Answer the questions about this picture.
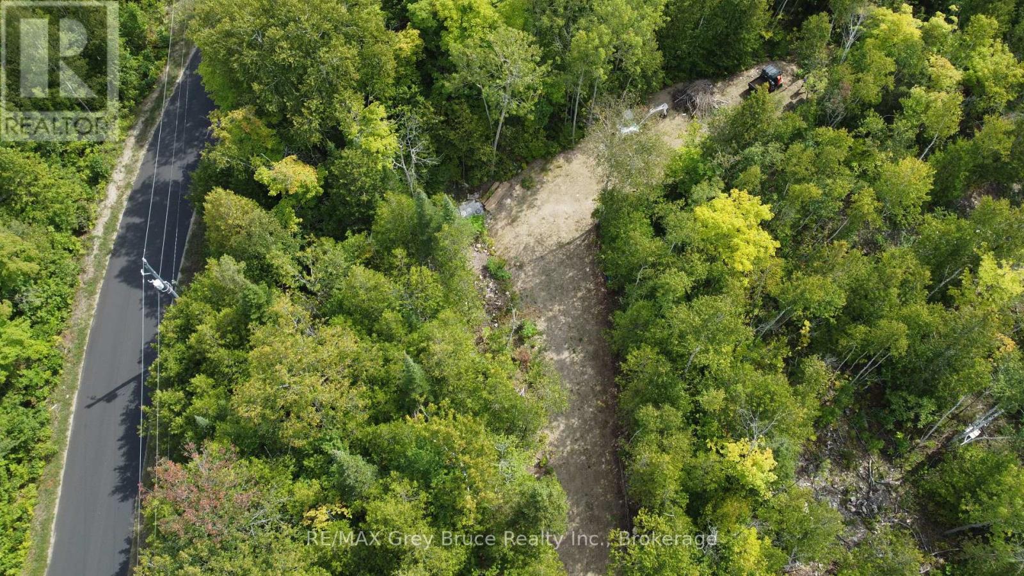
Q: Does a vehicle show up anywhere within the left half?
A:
No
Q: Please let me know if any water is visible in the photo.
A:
No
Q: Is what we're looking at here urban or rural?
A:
rural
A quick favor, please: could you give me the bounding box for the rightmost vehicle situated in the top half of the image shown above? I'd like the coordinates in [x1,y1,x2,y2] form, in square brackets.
[747,67,782,96]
